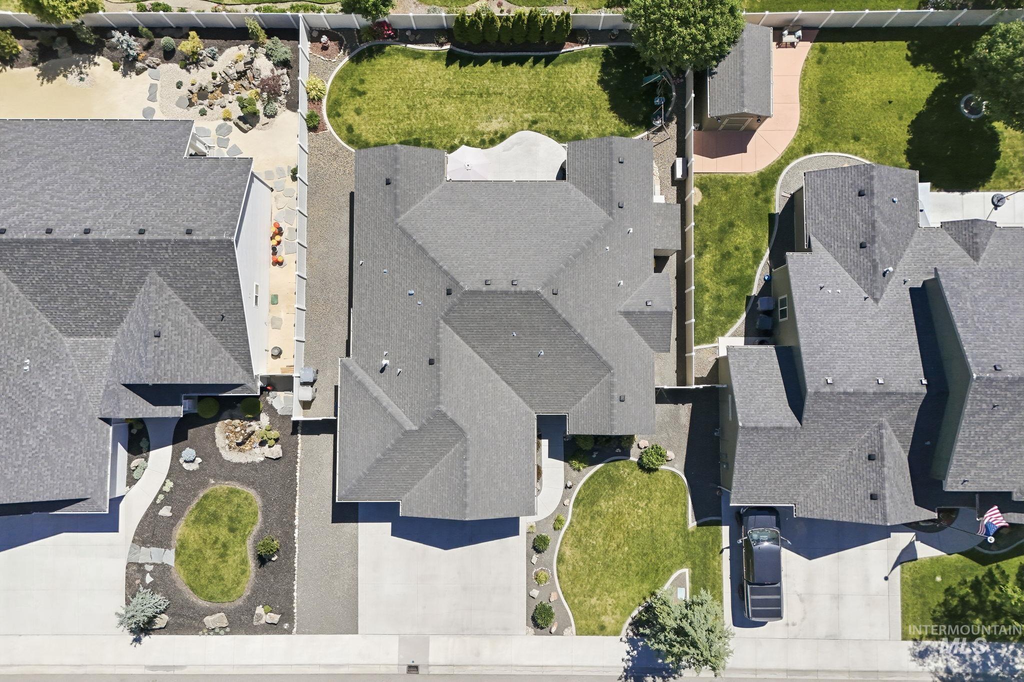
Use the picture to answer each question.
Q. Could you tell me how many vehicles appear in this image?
1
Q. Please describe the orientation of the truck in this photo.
vertically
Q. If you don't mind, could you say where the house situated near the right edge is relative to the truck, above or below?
above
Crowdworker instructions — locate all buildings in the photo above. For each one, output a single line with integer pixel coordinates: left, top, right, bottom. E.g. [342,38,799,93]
[701,21,775,129]
[717,163,1024,526]
[0,117,271,516]
[336,137,681,521]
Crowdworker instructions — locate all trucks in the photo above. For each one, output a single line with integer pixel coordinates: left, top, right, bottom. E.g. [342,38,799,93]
[739,506,797,622]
